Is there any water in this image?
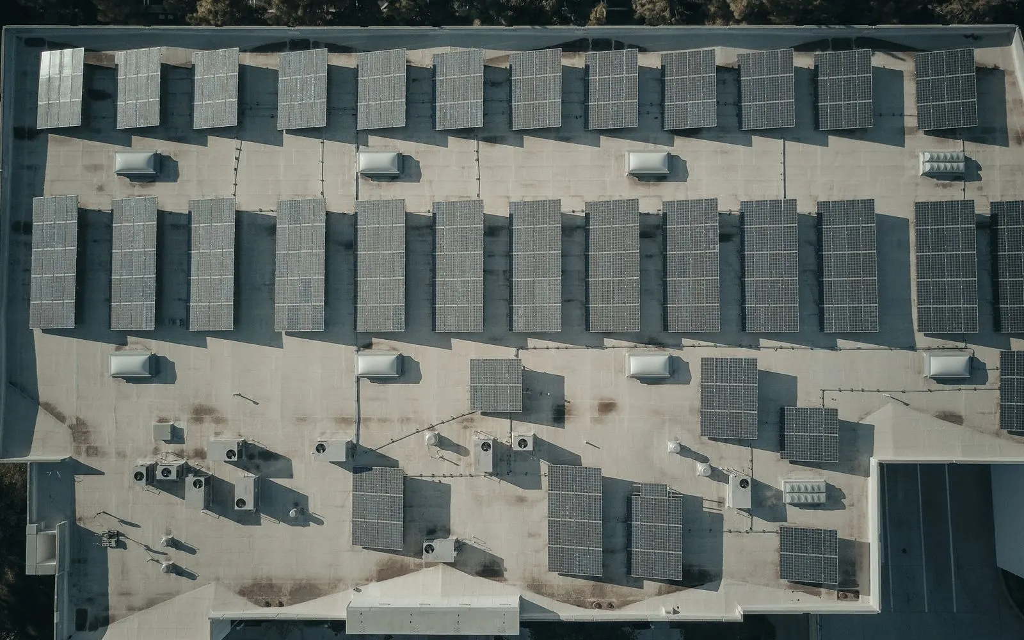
No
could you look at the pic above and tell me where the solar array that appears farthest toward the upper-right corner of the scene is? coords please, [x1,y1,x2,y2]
[916,48,978,131]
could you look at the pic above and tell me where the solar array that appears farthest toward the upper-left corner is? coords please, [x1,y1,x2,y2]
[38,46,87,129]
